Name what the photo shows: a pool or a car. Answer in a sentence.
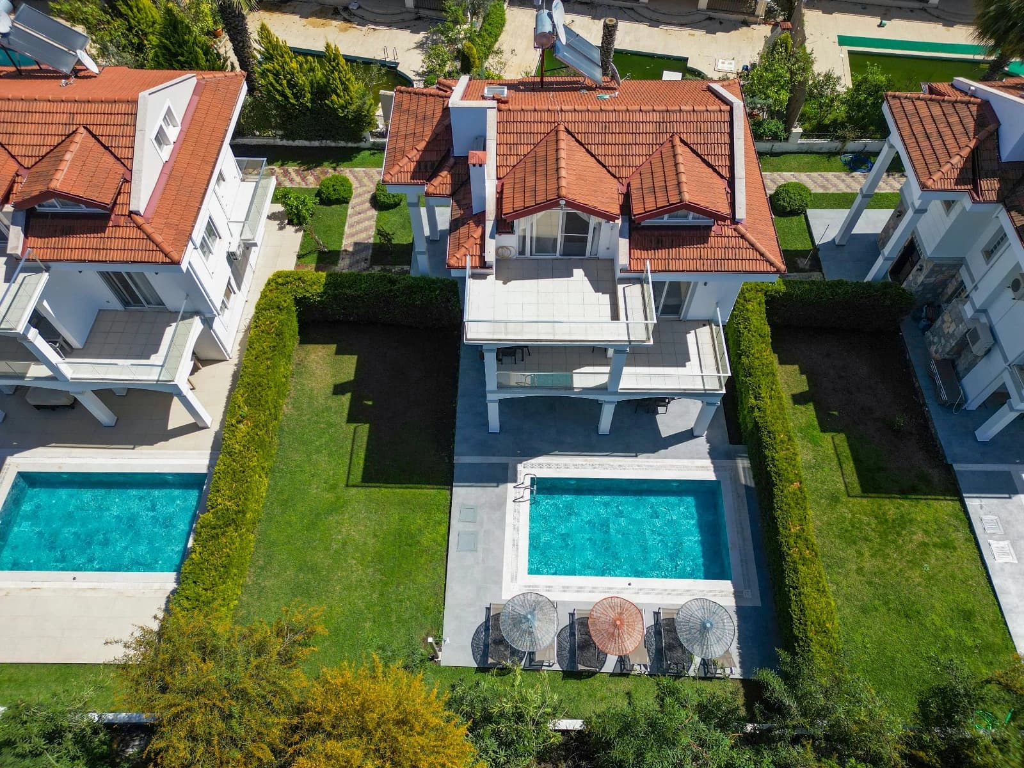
The image shows a pool.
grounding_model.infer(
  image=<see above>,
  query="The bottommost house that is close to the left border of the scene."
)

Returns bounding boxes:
[0,69,278,432]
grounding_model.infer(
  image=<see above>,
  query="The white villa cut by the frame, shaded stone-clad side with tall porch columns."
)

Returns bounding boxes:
[828,78,1024,445]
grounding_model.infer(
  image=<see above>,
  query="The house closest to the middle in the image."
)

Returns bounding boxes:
[380,72,789,440]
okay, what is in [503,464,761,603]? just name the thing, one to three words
swimming pool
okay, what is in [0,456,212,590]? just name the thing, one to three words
swimming pool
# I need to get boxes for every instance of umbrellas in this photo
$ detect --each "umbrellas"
[587,599,645,658]
[676,601,734,660]
[500,593,558,651]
